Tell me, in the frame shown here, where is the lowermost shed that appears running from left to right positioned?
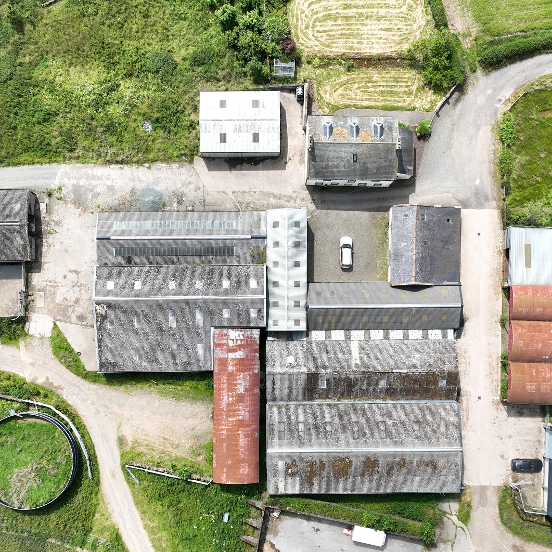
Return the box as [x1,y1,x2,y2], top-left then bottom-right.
[266,402,464,495]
